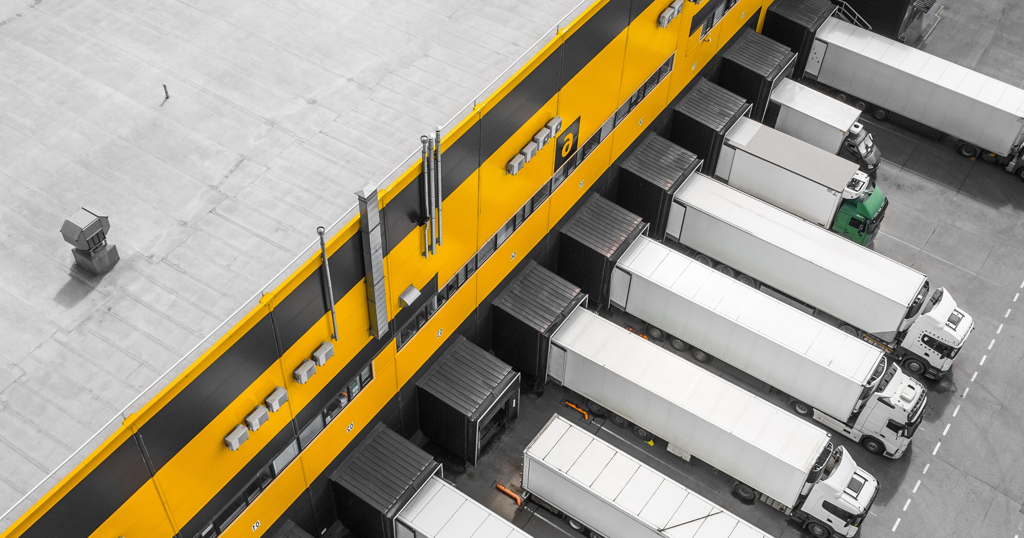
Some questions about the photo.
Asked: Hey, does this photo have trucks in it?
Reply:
Yes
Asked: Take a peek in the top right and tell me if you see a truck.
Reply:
Yes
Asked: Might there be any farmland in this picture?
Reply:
No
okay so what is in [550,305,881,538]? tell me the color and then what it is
white truck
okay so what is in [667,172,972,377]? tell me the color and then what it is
white truck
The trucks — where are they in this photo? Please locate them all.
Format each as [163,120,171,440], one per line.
[612,235,931,458]
[797,17,1024,177]
[719,116,889,248]
[550,305,881,538]
[667,172,972,377]
[522,413,780,538]
[399,474,538,538]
